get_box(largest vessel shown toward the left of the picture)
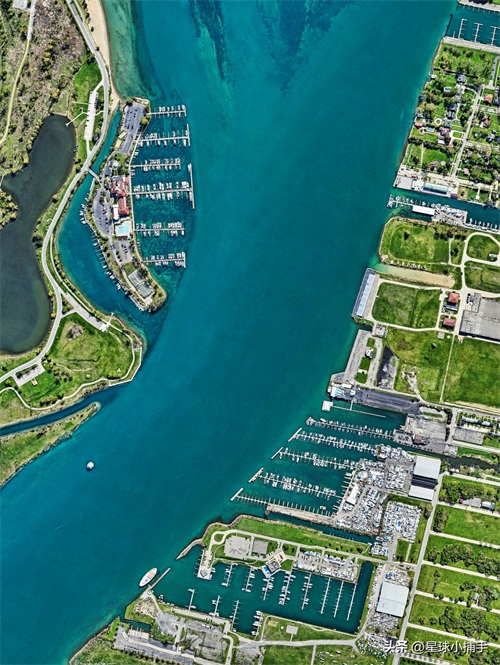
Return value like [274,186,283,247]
[141,569,156,585]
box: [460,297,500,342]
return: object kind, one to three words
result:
building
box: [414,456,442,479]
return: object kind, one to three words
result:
shed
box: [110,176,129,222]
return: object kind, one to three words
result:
building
